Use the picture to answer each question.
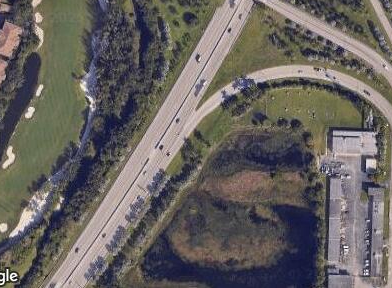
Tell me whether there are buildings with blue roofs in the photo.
No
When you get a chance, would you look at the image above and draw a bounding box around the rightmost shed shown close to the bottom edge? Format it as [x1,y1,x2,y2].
[369,188,384,276]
